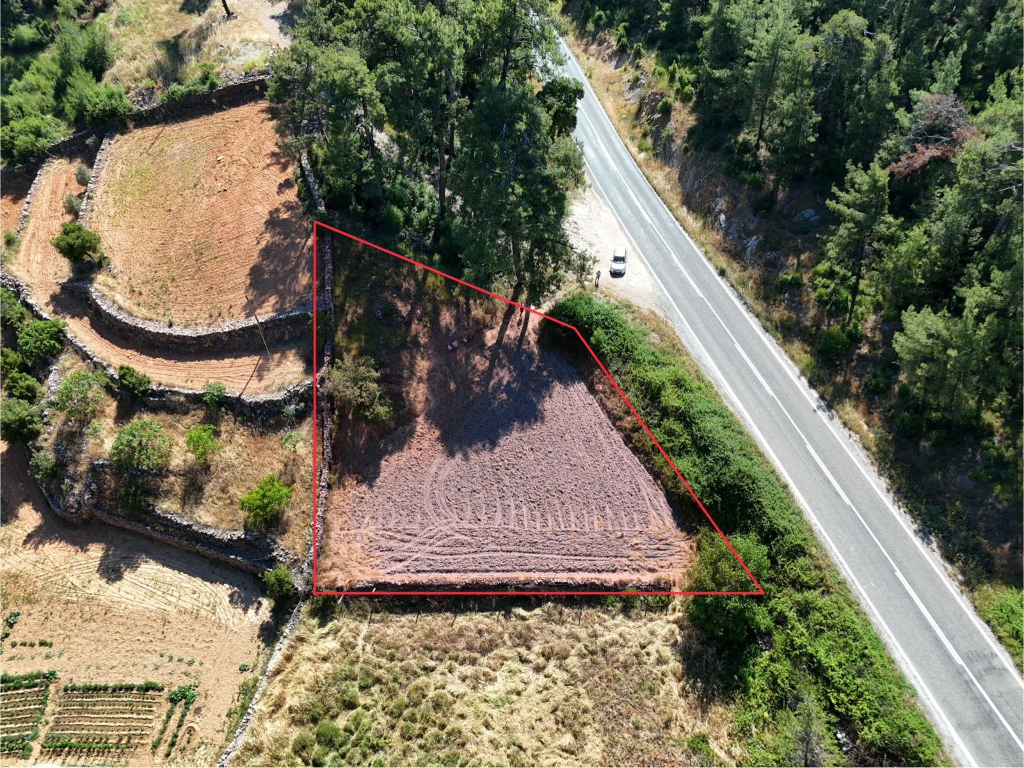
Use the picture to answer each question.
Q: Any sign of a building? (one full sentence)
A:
No, I can't see a single building in this photo.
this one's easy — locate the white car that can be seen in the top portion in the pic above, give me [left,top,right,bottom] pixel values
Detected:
[610,245,628,272]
